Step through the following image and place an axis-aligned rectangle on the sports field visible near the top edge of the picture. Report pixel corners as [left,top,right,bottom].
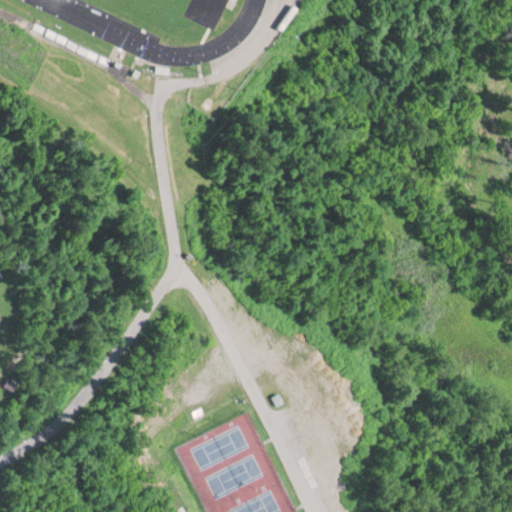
[86,0,245,46]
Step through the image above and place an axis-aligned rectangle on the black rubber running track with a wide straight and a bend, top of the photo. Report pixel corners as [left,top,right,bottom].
[26,0,265,66]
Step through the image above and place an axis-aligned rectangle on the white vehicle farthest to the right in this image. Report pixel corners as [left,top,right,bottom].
[278,2,302,32]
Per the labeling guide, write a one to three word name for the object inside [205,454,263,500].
tennis court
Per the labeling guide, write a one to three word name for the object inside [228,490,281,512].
tennis court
